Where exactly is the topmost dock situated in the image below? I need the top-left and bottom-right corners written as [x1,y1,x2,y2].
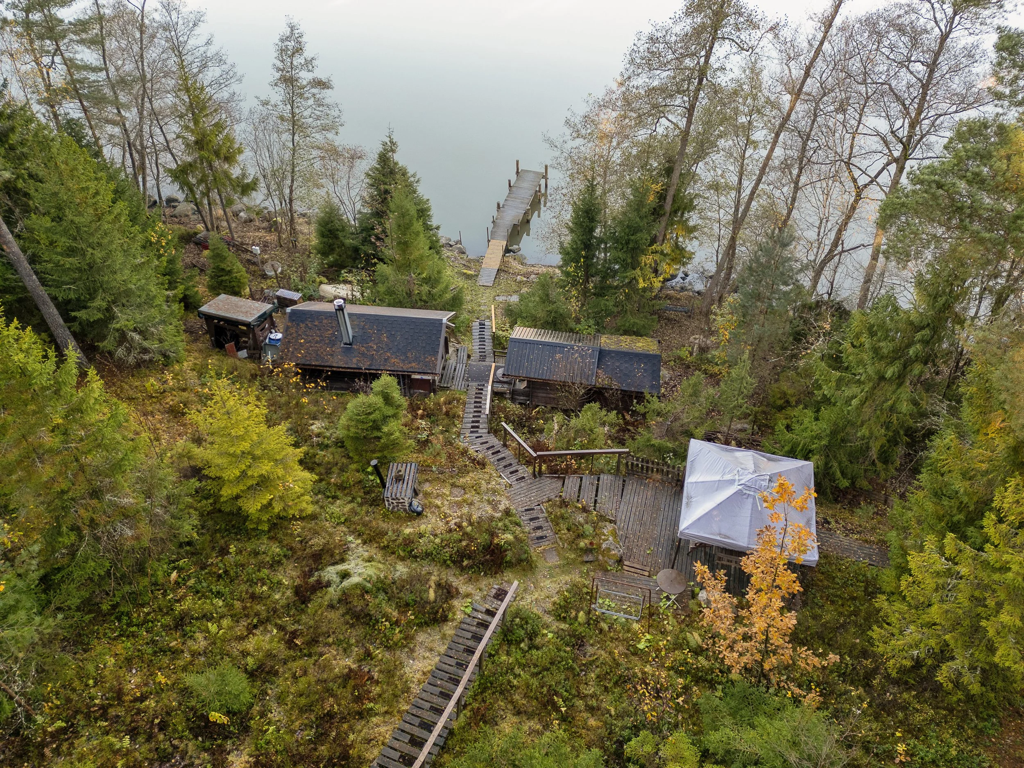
[491,158,550,242]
